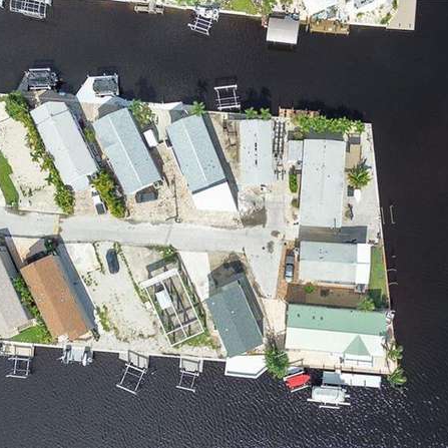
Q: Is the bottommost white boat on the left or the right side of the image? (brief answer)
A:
right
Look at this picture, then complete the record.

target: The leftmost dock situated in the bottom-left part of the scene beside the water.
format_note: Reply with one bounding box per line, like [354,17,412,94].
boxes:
[4,343,37,357]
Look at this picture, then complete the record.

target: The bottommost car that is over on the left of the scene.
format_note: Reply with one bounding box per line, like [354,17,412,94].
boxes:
[105,249,120,274]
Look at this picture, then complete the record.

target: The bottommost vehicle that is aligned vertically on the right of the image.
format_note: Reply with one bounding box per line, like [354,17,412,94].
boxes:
[283,255,296,284]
